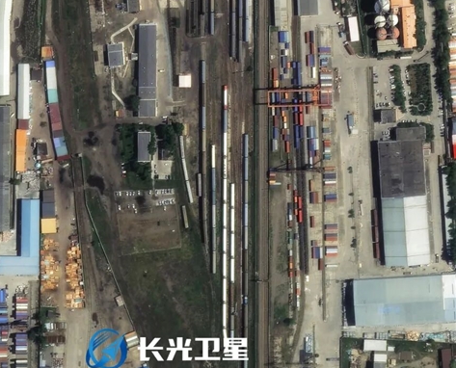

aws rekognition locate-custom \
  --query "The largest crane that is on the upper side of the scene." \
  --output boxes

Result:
[267,85,330,106]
